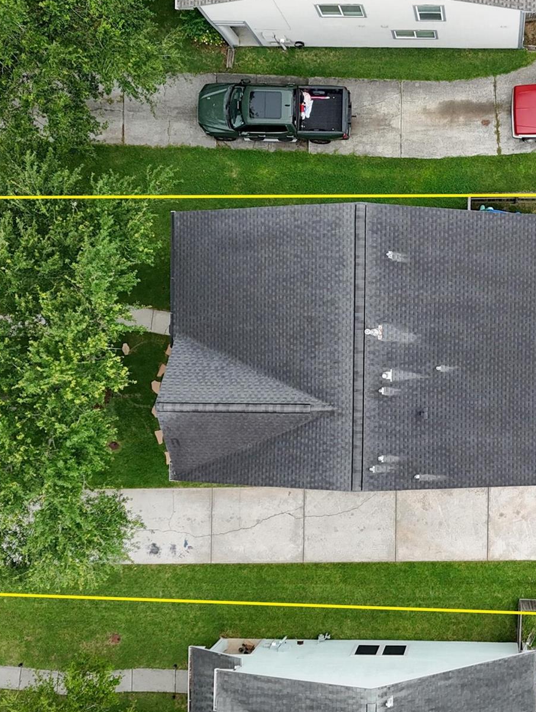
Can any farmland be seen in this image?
No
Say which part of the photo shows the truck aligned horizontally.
top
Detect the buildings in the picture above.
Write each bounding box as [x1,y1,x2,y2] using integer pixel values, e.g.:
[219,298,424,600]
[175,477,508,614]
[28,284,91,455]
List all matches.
[155,202,536,492]
[185,634,536,712]
[174,0,536,59]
